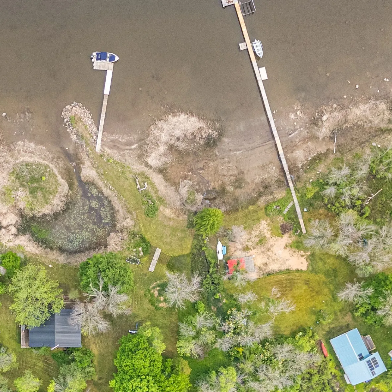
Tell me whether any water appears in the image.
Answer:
Yes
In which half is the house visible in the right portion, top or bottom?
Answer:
bottom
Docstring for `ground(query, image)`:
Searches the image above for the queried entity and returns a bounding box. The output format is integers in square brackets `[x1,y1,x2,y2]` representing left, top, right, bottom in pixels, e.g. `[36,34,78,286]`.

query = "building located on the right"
[328,329,386,387]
